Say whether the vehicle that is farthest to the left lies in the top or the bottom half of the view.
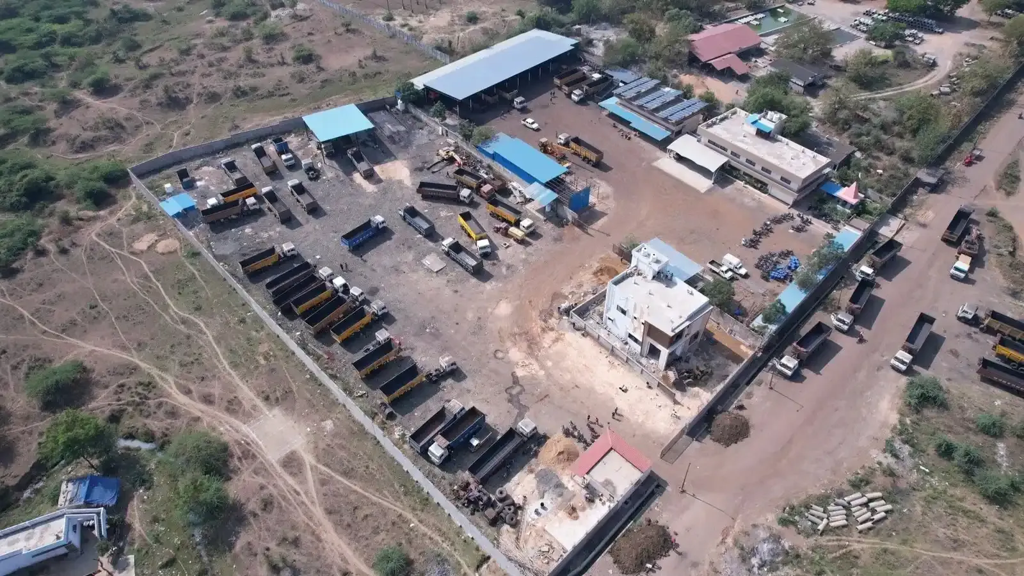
top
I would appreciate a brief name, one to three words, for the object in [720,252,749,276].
vehicle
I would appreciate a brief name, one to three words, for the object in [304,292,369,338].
truck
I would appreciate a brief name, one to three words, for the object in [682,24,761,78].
building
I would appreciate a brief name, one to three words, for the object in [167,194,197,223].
shed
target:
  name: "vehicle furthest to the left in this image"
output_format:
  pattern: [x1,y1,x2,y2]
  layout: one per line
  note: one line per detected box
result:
[175,167,196,192]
